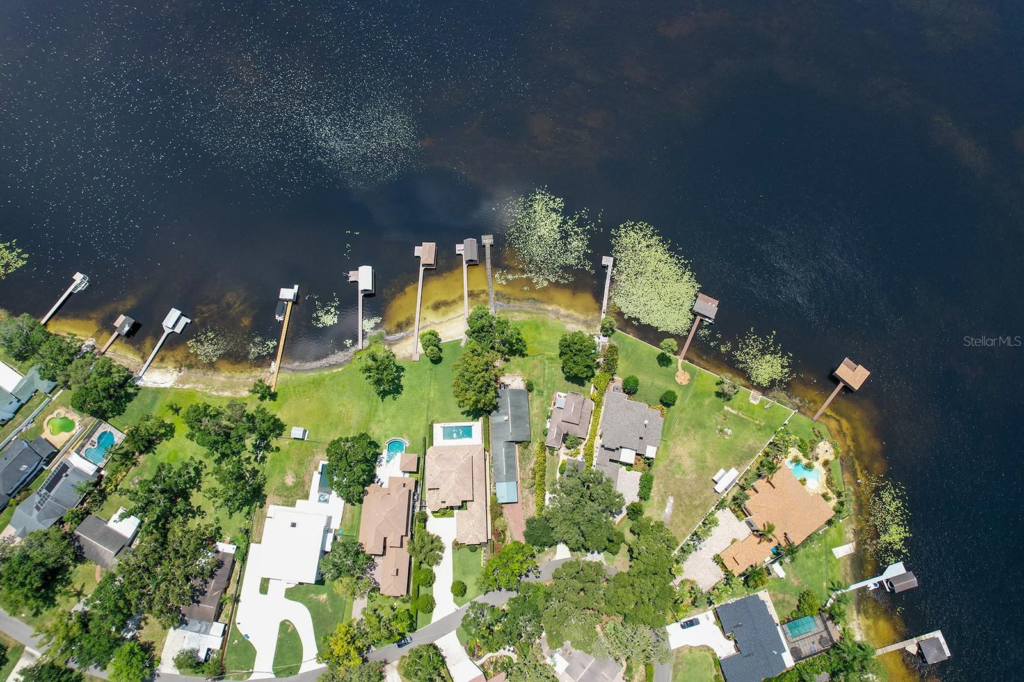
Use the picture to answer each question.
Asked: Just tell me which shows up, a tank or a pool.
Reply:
pool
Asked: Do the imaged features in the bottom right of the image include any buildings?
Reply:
Yes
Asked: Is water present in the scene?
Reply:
Yes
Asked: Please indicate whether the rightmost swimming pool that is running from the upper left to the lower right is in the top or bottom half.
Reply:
bottom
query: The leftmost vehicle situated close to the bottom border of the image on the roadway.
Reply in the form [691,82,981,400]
[394,635,413,649]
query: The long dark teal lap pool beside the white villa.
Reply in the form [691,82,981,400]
[317,464,336,503]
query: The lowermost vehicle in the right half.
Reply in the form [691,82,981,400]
[680,617,700,629]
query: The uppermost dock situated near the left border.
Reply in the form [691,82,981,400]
[43,271,90,320]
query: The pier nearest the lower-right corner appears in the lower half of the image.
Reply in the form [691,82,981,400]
[875,629,952,665]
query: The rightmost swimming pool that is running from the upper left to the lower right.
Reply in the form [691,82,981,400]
[786,459,821,490]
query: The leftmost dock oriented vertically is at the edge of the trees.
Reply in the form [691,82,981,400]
[271,284,300,393]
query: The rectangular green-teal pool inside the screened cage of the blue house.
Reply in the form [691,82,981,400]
[785,614,818,639]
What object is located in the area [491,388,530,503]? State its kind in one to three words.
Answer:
house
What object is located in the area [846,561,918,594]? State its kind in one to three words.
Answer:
pier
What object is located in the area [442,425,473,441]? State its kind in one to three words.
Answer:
swimming pool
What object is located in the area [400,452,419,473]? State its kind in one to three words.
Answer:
building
